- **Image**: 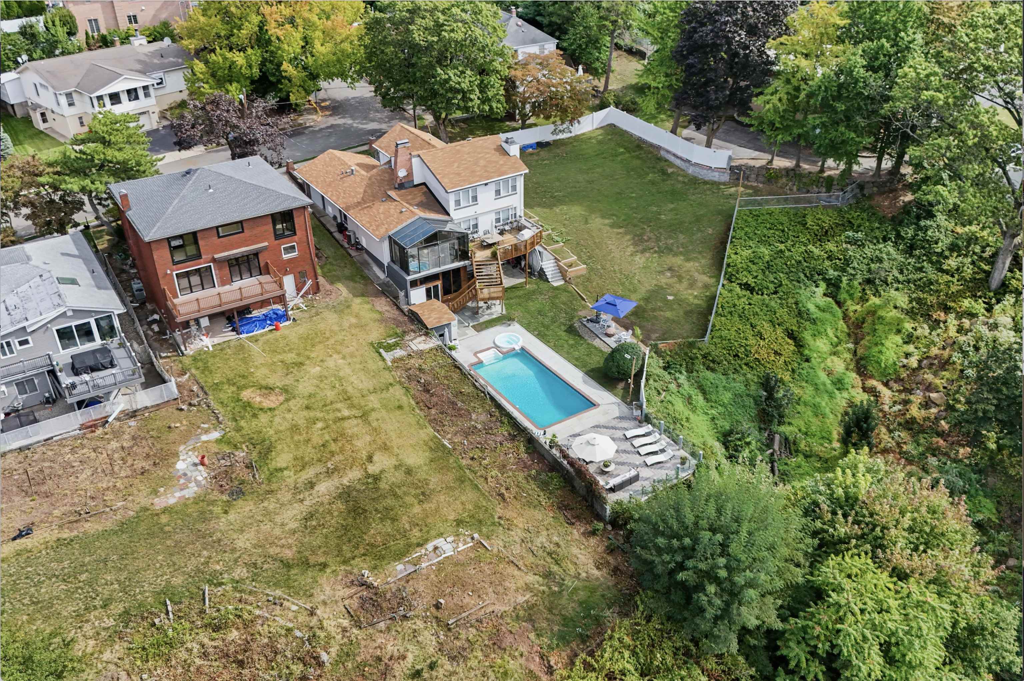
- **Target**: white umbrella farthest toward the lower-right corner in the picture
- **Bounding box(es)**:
[564,424,617,463]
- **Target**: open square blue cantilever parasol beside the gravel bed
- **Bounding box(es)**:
[589,288,638,323]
